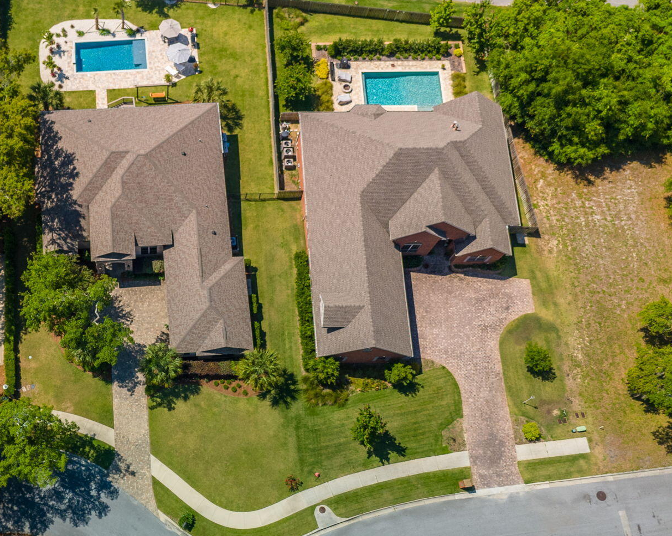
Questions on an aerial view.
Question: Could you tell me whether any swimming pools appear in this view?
Yes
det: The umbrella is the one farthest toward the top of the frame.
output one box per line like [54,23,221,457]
[158,18,183,44]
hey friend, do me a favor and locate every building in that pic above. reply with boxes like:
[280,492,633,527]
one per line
[39,102,254,358]
[296,91,521,365]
